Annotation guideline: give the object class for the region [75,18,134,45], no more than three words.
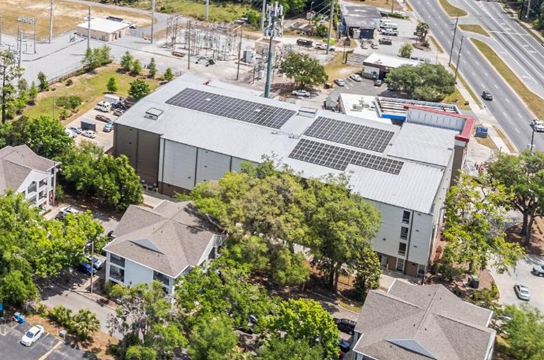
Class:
building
